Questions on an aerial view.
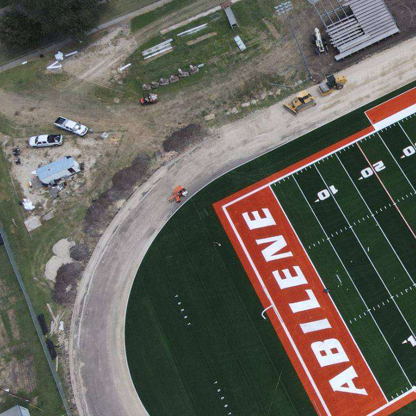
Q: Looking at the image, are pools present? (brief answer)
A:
No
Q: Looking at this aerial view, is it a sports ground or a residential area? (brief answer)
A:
sports ground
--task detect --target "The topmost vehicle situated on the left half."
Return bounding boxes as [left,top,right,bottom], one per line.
[139,88,159,106]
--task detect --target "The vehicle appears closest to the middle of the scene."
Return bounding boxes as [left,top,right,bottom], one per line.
[170,183,191,211]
